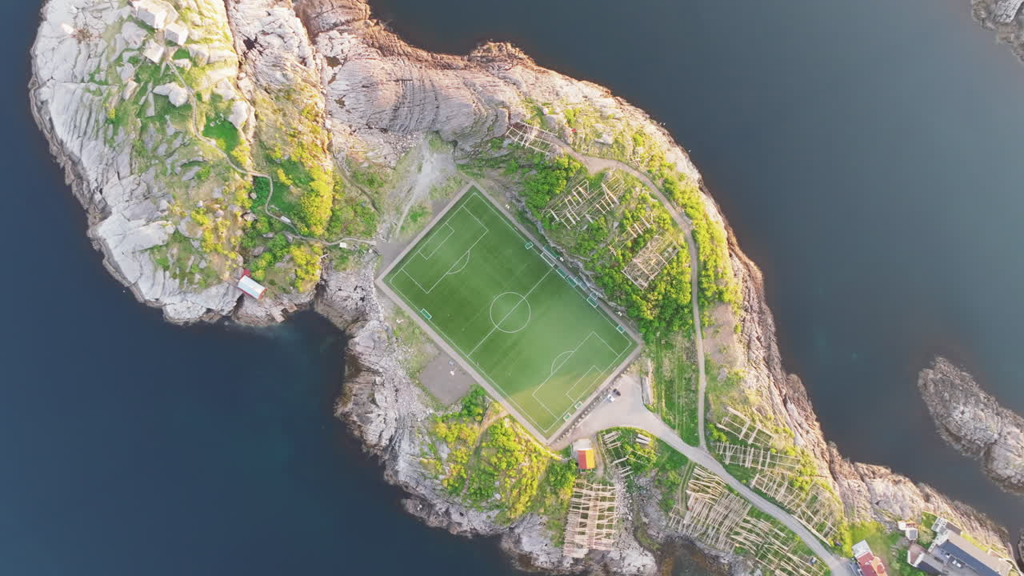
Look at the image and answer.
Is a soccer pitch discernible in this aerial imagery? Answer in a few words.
Yes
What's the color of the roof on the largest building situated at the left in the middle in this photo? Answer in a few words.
white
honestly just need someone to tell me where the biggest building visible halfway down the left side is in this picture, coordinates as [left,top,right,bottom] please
[239,275,267,299]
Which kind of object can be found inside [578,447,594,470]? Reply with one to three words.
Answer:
house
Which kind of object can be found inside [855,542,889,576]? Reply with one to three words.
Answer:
house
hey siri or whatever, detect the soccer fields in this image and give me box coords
[383,186,638,438]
